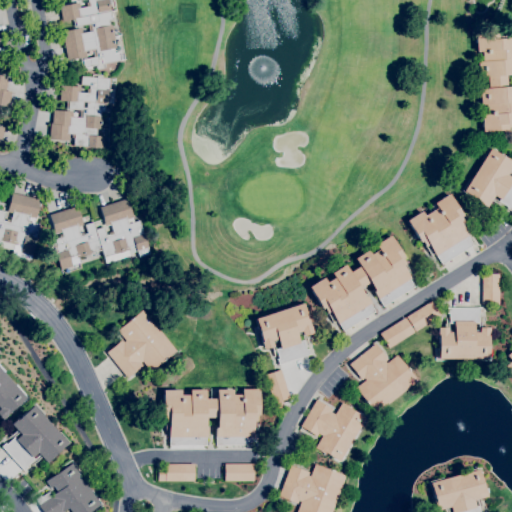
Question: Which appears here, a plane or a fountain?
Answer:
fountain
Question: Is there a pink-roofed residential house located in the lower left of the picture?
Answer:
No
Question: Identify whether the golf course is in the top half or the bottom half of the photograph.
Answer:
top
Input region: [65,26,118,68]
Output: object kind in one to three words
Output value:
house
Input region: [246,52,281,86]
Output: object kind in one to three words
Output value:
fountain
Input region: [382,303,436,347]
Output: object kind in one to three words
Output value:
building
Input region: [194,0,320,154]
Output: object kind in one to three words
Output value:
pond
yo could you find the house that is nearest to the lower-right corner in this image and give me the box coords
[432,470,492,512]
